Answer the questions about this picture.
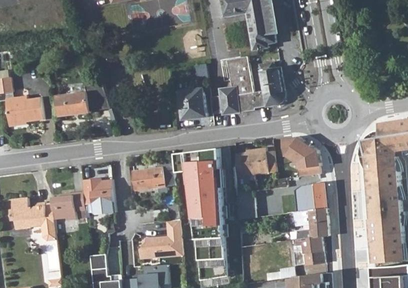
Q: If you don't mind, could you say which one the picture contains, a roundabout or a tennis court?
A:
roundabout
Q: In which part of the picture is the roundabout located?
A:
right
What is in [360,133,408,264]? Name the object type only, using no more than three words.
building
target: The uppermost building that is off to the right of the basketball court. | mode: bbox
[220,0,282,49]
